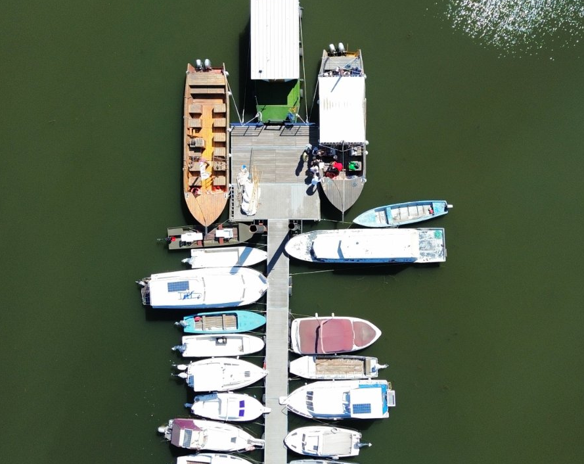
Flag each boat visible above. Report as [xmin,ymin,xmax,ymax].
[289,354,390,380]
[284,417,371,459]
[177,356,269,393]
[154,419,265,455]
[160,220,267,249]
[173,310,267,336]
[171,334,266,357]
[322,200,454,228]
[178,452,262,464]
[290,313,383,354]
[279,378,395,427]
[181,247,268,269]
[285,228,447,274]
[183,60,241,235]
[183,392,271,425]
[129,268,269,309]
[310,45,368,221]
